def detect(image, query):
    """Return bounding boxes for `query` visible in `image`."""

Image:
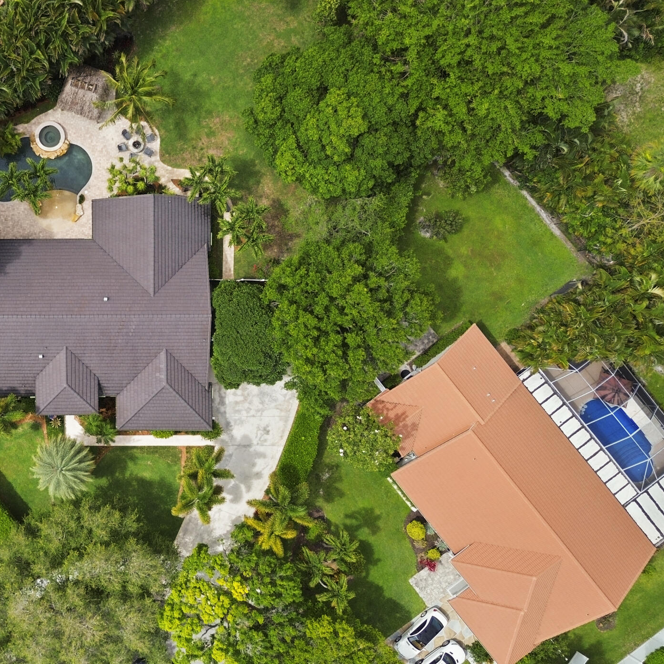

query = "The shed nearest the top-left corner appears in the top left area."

[55,64,119,127]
